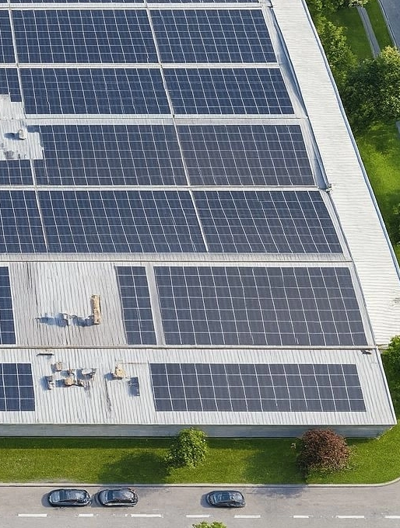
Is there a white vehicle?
No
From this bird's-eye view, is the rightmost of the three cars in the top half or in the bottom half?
bottom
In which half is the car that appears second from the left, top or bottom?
bottom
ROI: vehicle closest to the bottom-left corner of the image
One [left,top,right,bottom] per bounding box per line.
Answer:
[48,488,92,509]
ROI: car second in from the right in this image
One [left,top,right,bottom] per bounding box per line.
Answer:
[97,487,139,508]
